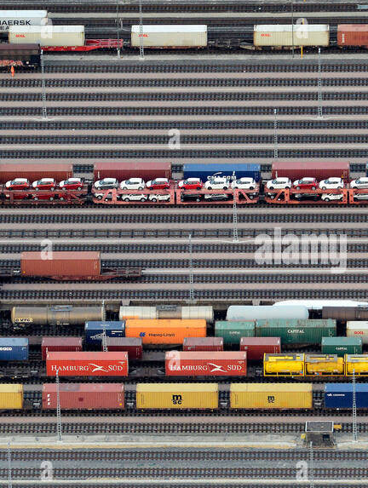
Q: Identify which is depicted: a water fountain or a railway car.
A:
railway car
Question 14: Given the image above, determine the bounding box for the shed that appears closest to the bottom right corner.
[305,421,336,449]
